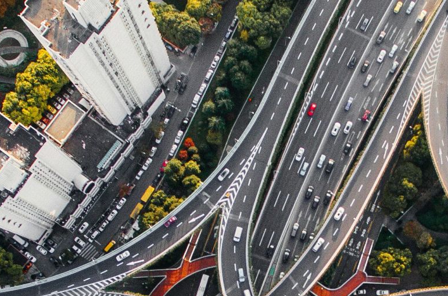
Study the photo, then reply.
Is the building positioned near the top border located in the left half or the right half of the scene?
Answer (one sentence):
The building positioned near the top border sits on the left side.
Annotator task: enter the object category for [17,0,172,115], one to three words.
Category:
building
